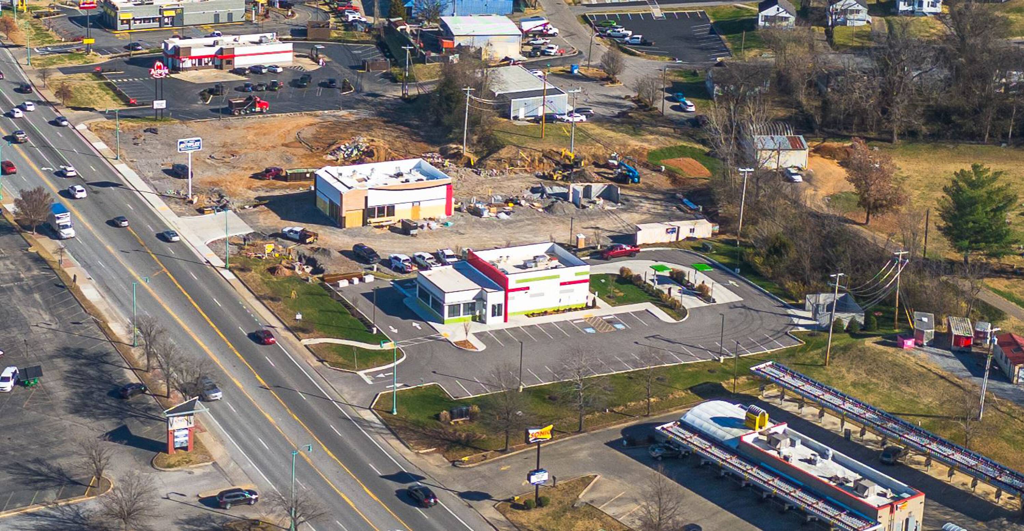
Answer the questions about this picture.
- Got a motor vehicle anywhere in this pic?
Yes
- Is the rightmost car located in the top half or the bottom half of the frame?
bottom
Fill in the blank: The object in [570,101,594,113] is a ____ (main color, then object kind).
gray vehicle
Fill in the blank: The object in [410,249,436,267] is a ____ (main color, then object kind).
white vehicle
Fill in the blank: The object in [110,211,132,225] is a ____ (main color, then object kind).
gray car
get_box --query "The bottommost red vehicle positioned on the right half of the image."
[603,242,641,258]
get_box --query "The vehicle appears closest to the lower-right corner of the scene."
[878,440,908,465]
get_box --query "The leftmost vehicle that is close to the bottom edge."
[217,485,261,507]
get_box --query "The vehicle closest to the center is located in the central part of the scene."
[434,245,459,263]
